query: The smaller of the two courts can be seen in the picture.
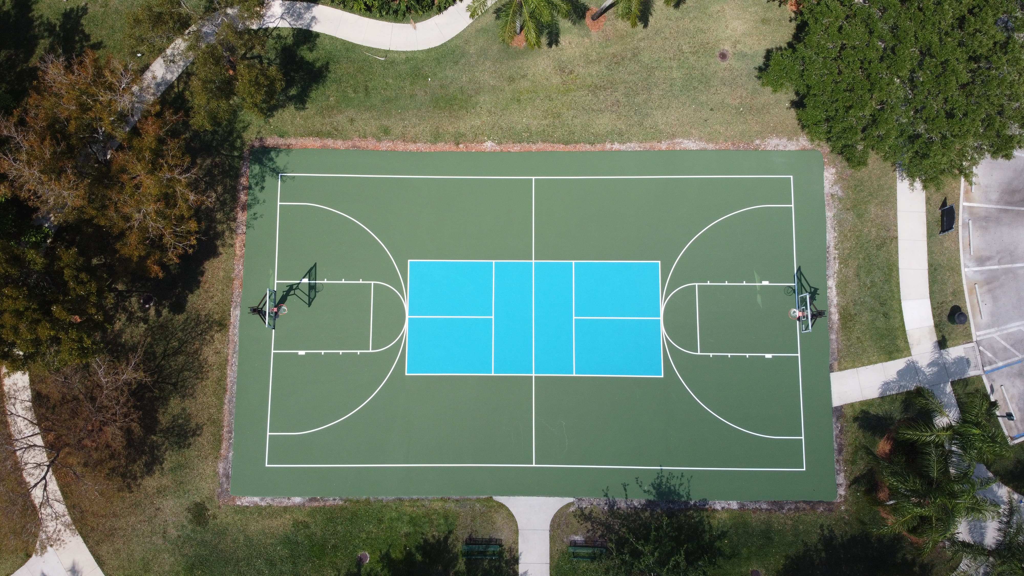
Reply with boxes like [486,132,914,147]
[406,260,663,377]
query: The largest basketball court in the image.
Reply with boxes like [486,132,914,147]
[230,148,838,502]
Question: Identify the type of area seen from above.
sports ground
